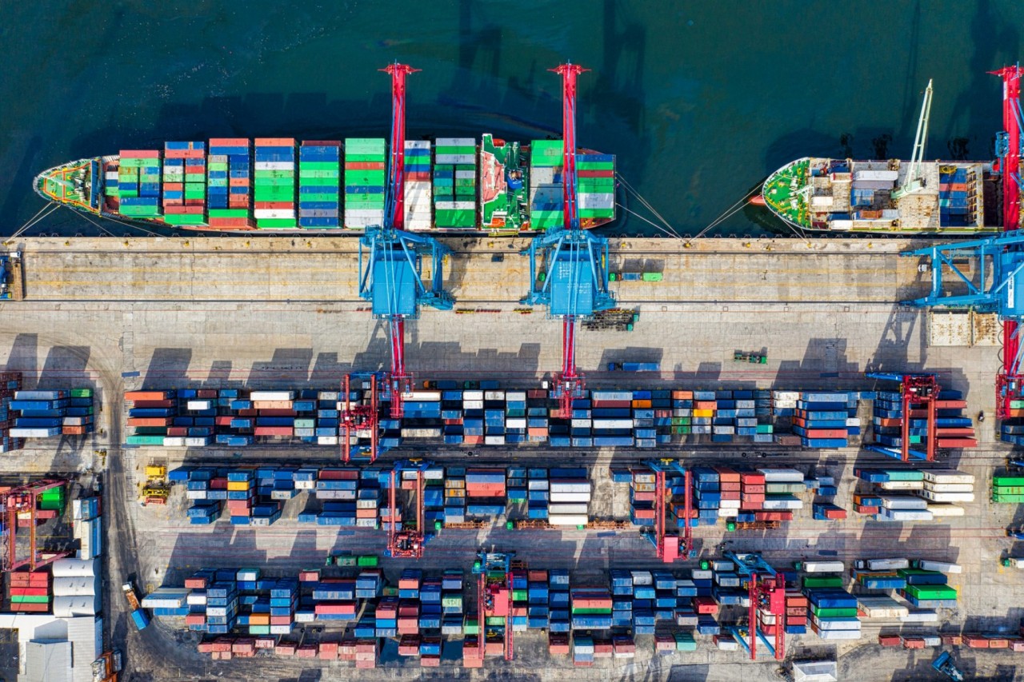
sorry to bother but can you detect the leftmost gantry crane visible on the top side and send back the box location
[355,55,459,415]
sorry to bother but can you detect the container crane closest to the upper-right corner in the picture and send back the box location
[900,55,1024,417]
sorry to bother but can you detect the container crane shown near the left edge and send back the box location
[1,477,78,573]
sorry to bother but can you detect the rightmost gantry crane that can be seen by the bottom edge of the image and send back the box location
[726,556,786,659]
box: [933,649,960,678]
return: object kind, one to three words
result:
truck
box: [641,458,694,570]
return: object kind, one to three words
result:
container crane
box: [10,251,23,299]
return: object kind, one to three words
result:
vehicle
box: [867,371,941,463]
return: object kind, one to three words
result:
container crane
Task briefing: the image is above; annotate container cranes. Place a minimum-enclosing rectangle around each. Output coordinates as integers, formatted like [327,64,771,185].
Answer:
[1,477,78,573]
[641,458,694,570]
[513,55,615,415]
[867,371,941,463]
[474,553,516,660]
[340,369,393,463]
[355,55,459,415]
[387,460,435,561]
[900,55,1024,417]
[726,556,786,659]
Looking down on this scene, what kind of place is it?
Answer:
port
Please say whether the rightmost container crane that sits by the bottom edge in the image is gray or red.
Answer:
red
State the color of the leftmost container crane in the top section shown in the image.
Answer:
blue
